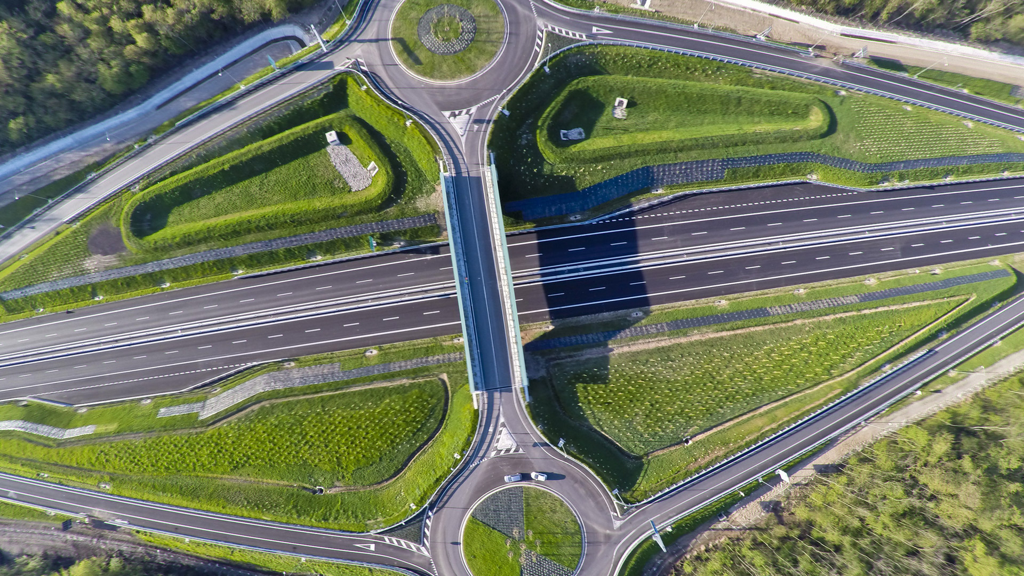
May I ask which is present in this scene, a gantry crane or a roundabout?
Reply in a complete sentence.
I can see a roundabout in this picture.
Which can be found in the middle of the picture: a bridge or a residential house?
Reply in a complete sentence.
Looking in the middle of the picture, you will find a bridge.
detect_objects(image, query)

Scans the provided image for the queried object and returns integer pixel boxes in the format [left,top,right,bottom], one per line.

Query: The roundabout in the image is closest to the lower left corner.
[372,384,635,576]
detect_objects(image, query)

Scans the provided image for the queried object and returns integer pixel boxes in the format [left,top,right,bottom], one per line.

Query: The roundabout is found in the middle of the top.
[323,0,589,176]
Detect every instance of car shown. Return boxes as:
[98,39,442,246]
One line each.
[531,472,547,483]
[504,474,522,485]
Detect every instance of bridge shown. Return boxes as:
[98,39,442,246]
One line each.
[439,153,529,409]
